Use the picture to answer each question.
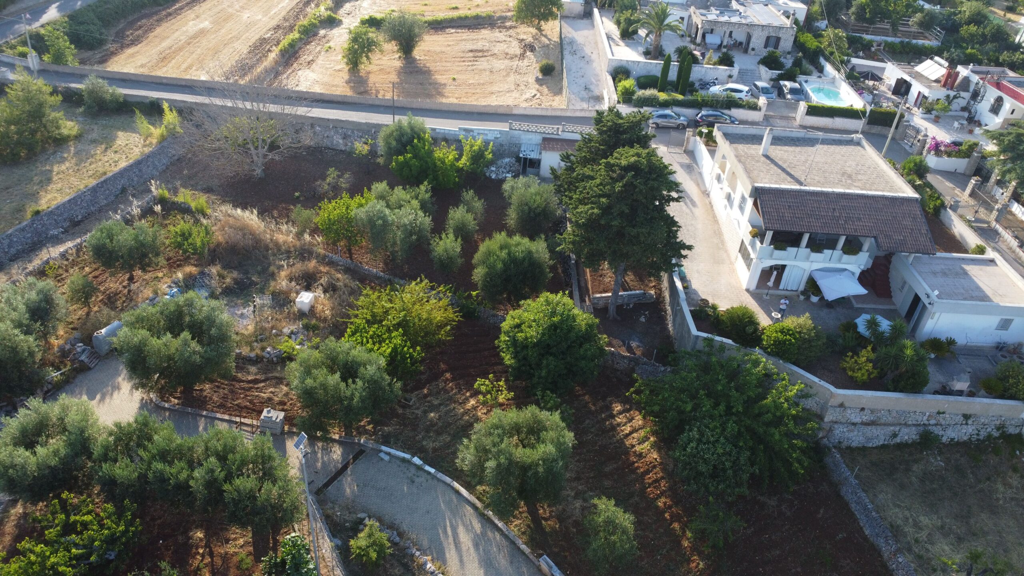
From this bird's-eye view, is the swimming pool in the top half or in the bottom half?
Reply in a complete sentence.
You can find the swimming pool in the top half.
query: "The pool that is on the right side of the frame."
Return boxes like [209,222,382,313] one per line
[803,78,849,115]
